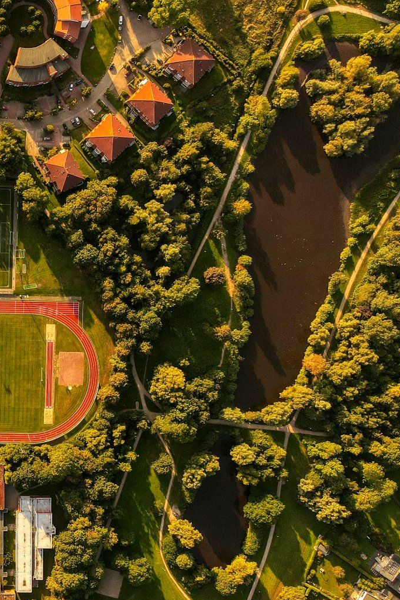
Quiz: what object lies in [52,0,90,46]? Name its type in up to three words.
building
